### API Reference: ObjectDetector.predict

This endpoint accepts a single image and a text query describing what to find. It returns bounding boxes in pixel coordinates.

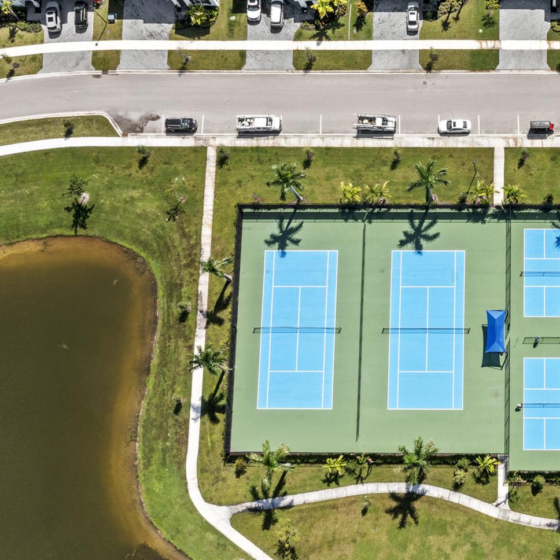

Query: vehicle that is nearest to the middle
[230,115,280,133]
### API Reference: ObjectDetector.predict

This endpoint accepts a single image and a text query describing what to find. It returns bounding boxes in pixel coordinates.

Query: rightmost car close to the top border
[405,2,420,32]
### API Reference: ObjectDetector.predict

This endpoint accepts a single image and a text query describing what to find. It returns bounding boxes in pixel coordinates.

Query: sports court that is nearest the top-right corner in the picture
[524,229,560,317]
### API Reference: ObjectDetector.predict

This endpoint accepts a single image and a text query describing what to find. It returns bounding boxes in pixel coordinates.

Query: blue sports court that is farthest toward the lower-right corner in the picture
[523,358,560,450]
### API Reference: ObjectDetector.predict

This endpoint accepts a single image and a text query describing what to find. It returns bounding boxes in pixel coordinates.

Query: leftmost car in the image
[44,2,60,34]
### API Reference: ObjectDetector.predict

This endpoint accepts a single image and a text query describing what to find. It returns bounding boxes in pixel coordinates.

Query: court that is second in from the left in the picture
[388,250,465,410]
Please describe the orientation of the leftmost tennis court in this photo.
vertically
